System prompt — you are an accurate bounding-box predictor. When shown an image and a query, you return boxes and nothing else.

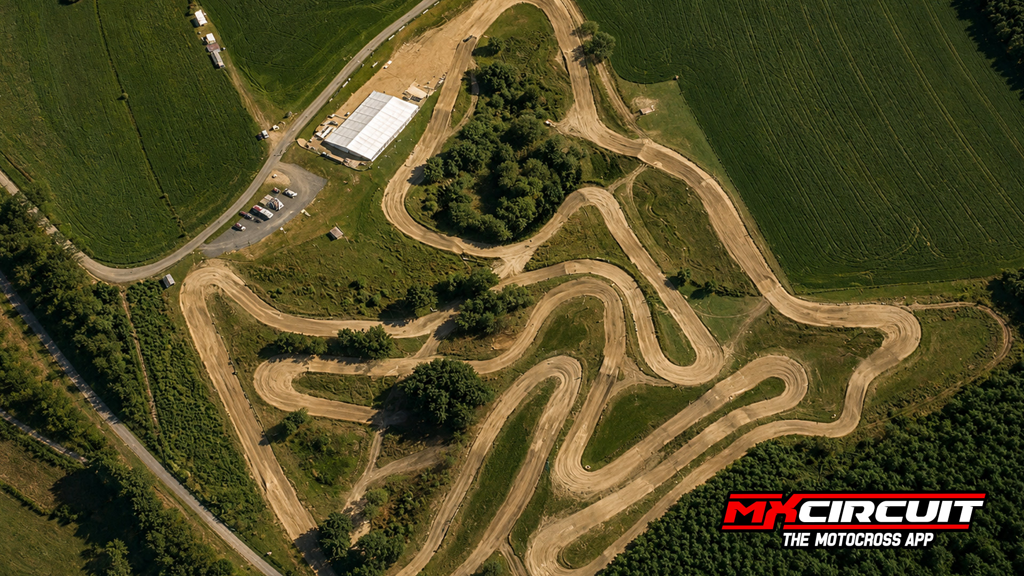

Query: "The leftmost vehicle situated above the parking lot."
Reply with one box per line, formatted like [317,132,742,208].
[208,50,226,71]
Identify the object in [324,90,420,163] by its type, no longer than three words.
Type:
tent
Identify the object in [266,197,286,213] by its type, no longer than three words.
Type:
vehicle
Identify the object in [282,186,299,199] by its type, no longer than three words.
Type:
vehicle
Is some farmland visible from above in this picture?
Yes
